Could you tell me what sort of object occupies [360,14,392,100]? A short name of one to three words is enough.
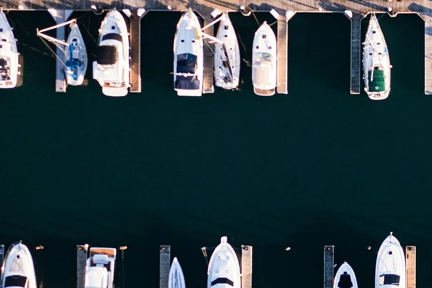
boat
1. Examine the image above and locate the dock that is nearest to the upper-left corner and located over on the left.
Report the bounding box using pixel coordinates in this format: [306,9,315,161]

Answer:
[54,10,75,92]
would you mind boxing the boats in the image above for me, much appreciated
[170,258,186,288]
[36,18,88,86]
[375,233,406,288]
[173,9,205,96]
[252,21,277,96]
[333,260,358,288]
[199,10,241,90]
[0,9,19,88]
[0,241,40,288]
[94,9,133,97]
[360,14,392,100]
[86,248,116,288]
[208,236,241,288]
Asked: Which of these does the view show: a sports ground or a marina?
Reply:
marina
